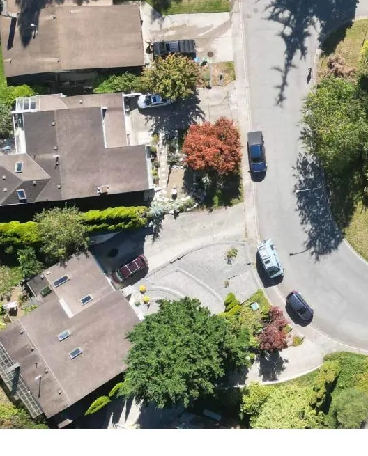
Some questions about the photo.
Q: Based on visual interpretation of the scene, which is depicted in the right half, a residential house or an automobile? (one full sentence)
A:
There is an automobile in the right half.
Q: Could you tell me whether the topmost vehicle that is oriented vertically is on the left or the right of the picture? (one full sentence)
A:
The topmost vehicle that is oriented vertically appears in the right half of the scene.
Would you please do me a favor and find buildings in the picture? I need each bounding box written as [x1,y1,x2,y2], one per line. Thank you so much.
[0,250,150,418]
[0,0,151,77]
[0,91,157,206]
